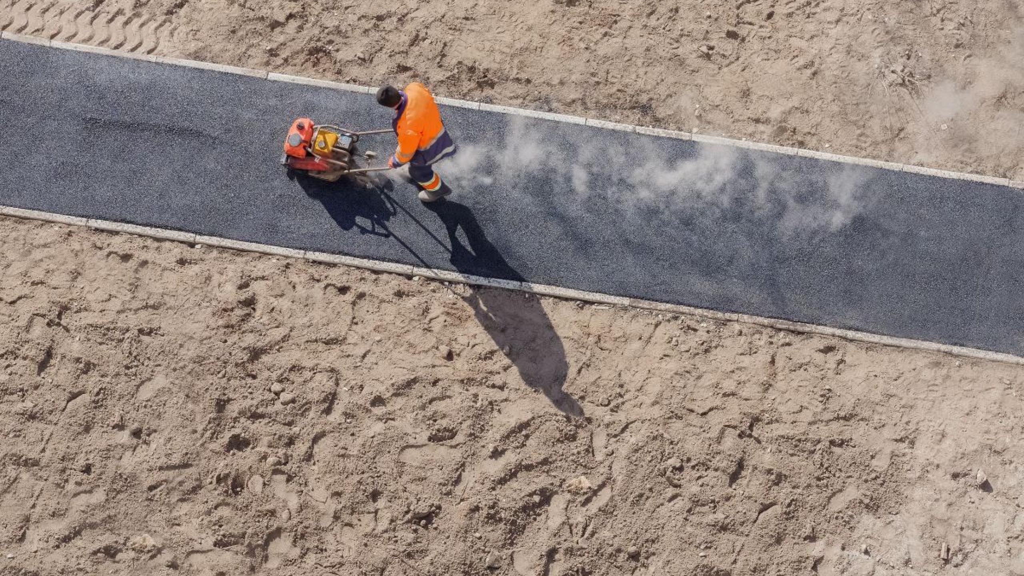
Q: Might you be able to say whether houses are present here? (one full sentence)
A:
No, the frame has no house in it.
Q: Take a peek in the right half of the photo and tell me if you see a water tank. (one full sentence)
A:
No, I can find no water tank in the right half of the photo.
